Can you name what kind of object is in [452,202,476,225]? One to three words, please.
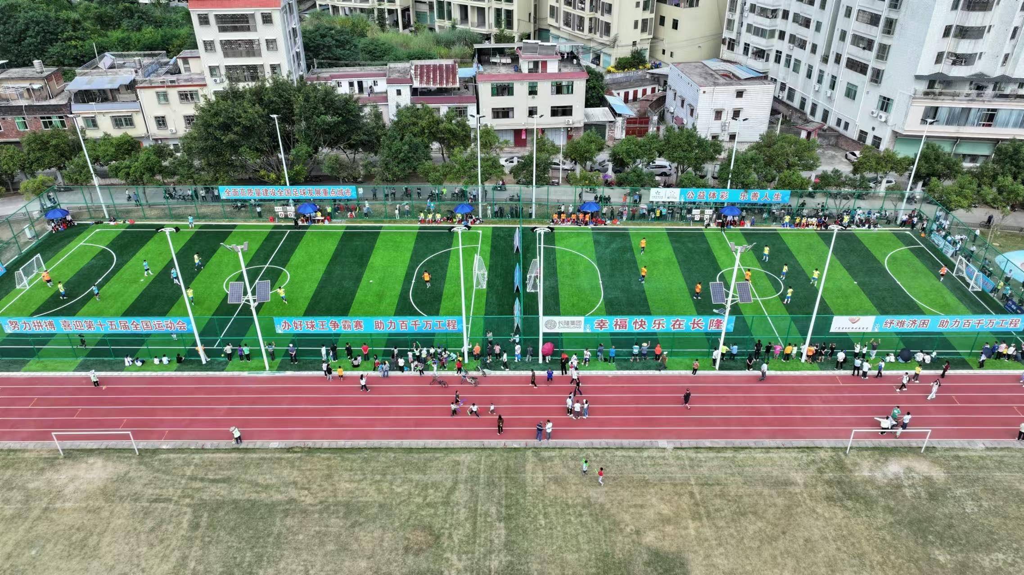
umbrella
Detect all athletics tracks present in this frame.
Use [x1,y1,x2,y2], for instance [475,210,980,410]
[0,374,1024,441]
